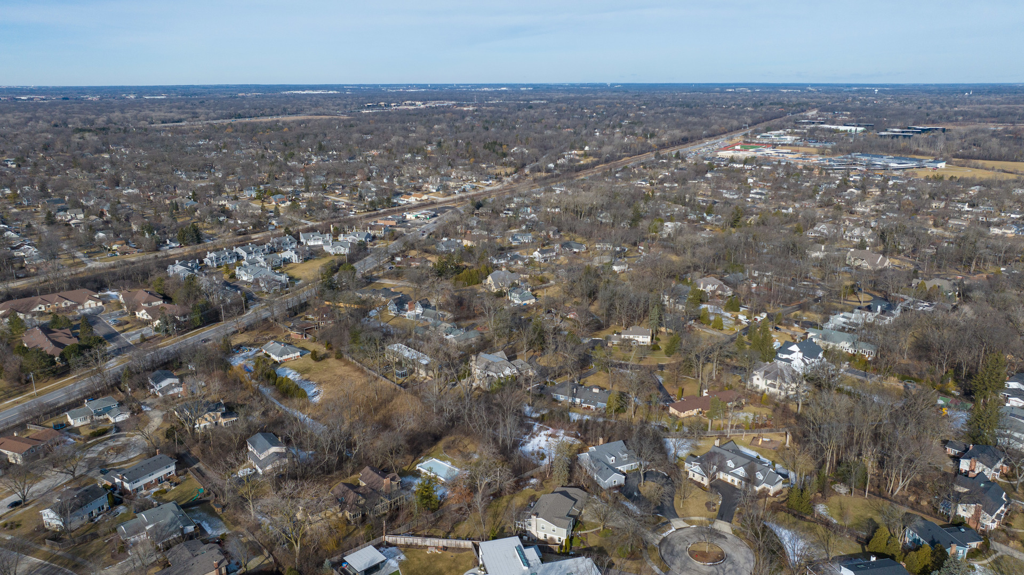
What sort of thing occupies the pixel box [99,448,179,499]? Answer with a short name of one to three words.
house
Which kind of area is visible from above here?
residential area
